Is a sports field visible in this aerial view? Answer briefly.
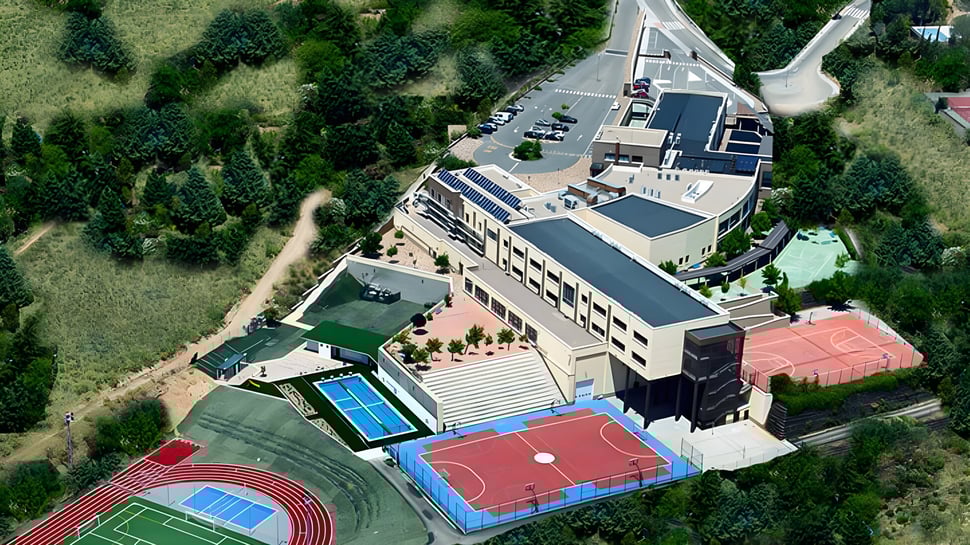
Yes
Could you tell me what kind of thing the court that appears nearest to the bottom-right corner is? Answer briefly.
basketball court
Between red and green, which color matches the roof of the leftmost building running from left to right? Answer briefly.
green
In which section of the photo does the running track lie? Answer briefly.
bottom left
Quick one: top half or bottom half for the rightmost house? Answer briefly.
top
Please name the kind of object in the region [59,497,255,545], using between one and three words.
soccer field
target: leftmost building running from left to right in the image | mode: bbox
[302,320,391,370]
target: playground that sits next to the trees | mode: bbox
[698,228,868,309]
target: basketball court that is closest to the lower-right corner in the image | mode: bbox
[740,315,920,387]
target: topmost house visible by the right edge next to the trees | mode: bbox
[923,92,970,162]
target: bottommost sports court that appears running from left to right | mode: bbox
[177,485,278,530]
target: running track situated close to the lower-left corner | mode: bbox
[4,438,332,545]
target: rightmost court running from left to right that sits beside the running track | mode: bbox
[390,391,699,531]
